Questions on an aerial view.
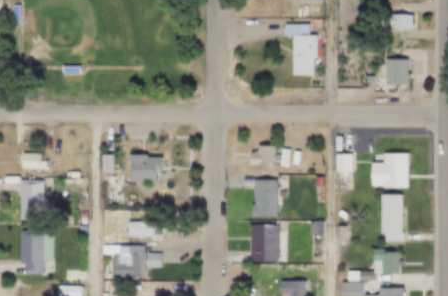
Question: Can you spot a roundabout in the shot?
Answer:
No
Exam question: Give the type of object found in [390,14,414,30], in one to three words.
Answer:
house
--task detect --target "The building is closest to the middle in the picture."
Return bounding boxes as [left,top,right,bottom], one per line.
[249,146,278,166]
